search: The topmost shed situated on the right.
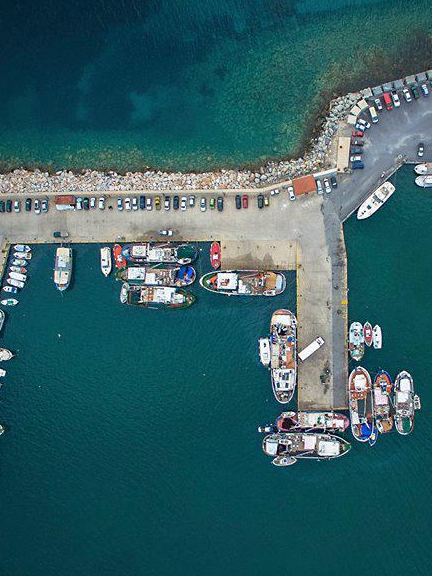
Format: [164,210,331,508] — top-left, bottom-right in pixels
[292,175,317,196]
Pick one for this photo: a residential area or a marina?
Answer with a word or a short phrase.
marina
